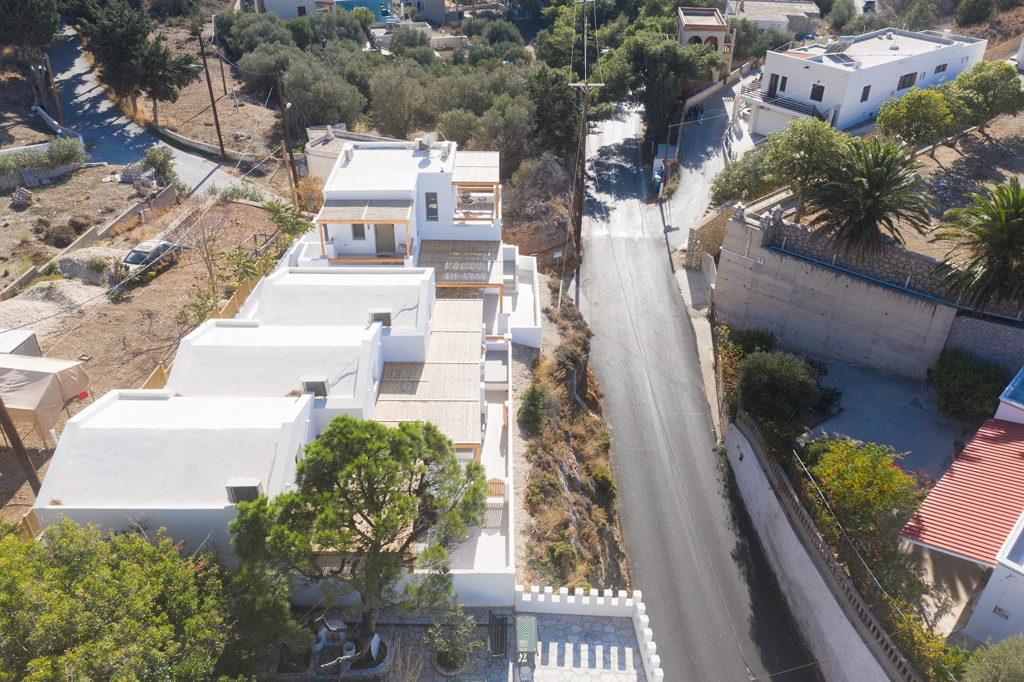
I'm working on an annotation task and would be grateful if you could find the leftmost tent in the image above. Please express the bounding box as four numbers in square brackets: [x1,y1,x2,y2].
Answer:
[0,357,93,449]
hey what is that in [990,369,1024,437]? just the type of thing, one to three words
house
